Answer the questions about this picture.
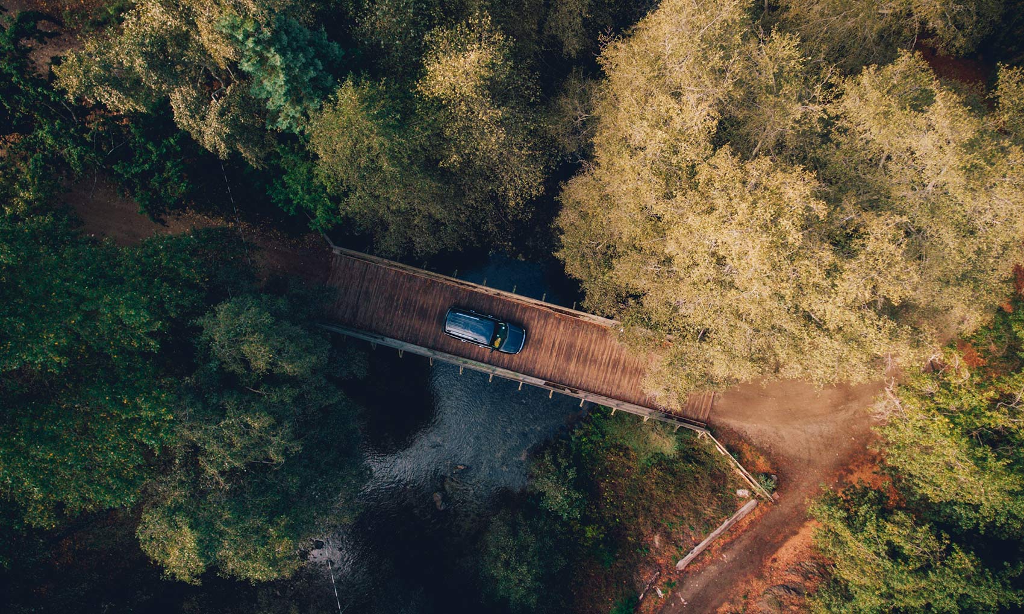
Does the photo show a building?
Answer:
No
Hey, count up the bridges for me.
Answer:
1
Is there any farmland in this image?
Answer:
No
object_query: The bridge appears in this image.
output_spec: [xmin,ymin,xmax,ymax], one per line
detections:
[310,240,717,436]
